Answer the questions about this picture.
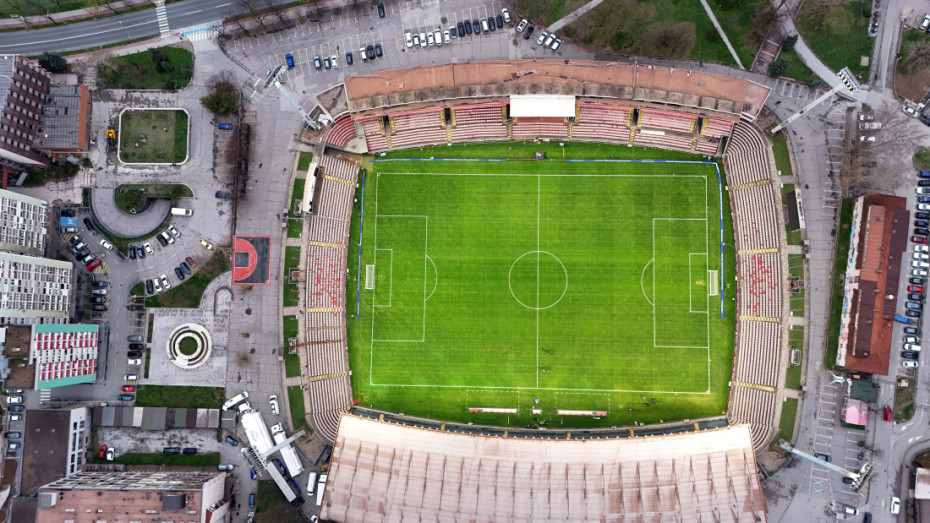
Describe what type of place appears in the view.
sports ground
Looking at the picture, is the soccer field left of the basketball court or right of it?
to its right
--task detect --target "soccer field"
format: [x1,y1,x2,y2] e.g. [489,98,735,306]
[349,140,736,427]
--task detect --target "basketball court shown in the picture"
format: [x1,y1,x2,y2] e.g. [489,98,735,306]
[233,236,272,285]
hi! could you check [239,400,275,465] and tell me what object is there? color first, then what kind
white truck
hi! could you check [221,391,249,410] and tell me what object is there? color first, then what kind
white vehicle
